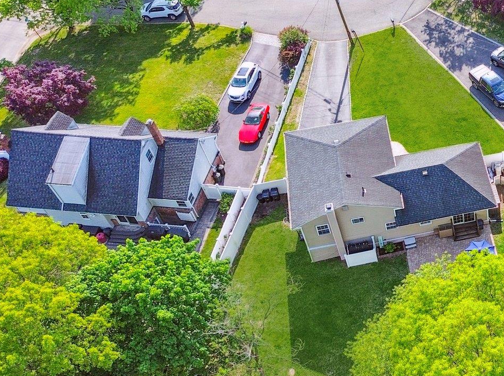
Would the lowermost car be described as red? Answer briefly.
Yes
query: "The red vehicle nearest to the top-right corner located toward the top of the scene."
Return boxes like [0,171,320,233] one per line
[238,104,272,145]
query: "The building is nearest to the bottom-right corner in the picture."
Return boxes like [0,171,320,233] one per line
[283,114,504,263]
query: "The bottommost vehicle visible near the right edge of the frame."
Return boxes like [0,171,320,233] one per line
[468,67,504,109]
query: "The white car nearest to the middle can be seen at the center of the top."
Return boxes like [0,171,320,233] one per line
[227,60,262,101]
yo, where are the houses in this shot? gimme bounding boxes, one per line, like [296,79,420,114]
[283,114,504,263]
[5,108,226,251]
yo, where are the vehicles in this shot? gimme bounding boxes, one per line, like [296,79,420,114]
[468,67,504,109]
[238,104,272,145]
[227,60,262,101]
[487,48,504,70]
[135,0,185,21]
